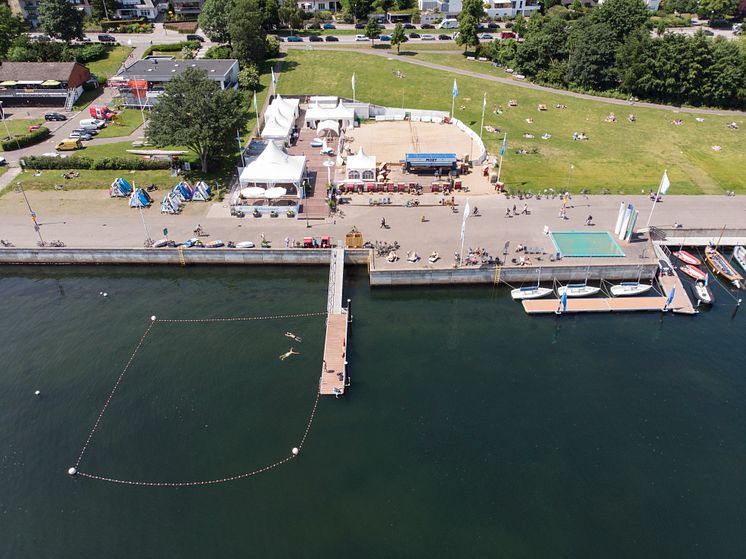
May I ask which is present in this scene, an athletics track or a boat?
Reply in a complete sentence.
The one in the frame is a boat.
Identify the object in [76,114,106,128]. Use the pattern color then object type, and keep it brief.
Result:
white vehicle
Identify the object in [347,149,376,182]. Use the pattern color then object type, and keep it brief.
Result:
white tent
